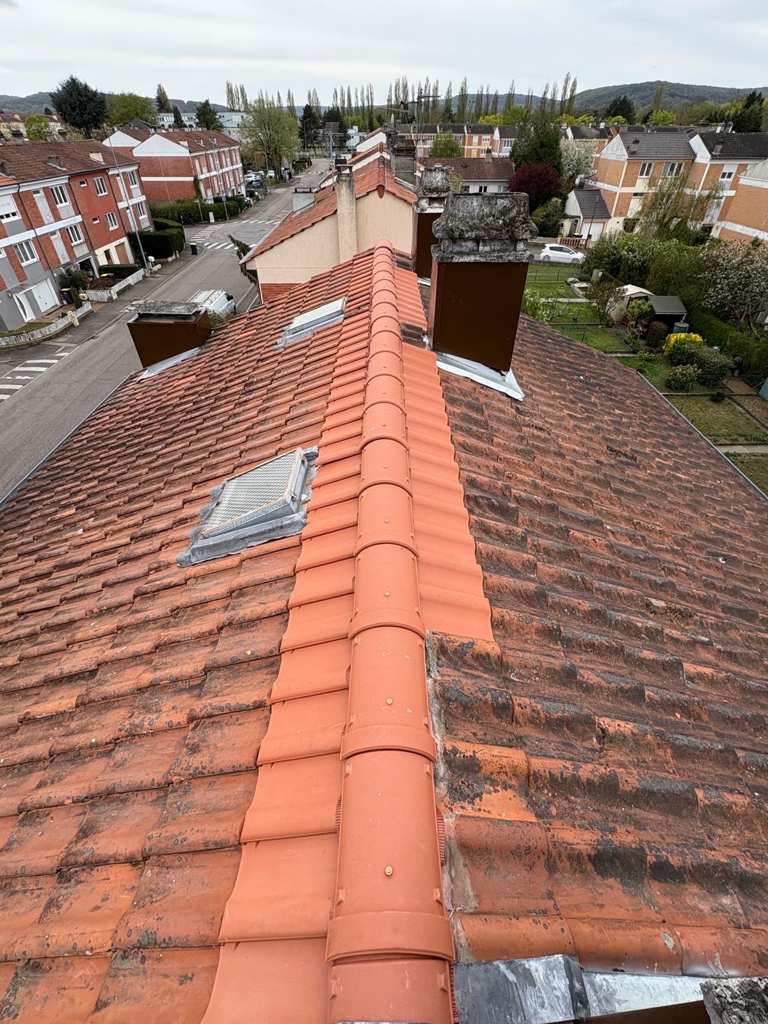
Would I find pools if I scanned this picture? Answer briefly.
No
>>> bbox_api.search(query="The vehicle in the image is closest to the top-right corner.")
[537,241,581,257]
